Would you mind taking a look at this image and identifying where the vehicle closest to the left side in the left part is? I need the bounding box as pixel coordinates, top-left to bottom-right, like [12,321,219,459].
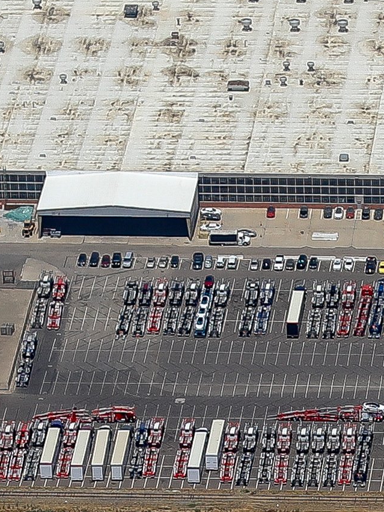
[22,220,36,237]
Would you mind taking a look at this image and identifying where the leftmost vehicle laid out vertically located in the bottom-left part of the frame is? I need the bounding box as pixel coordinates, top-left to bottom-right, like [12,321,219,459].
[39,421,63,475]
